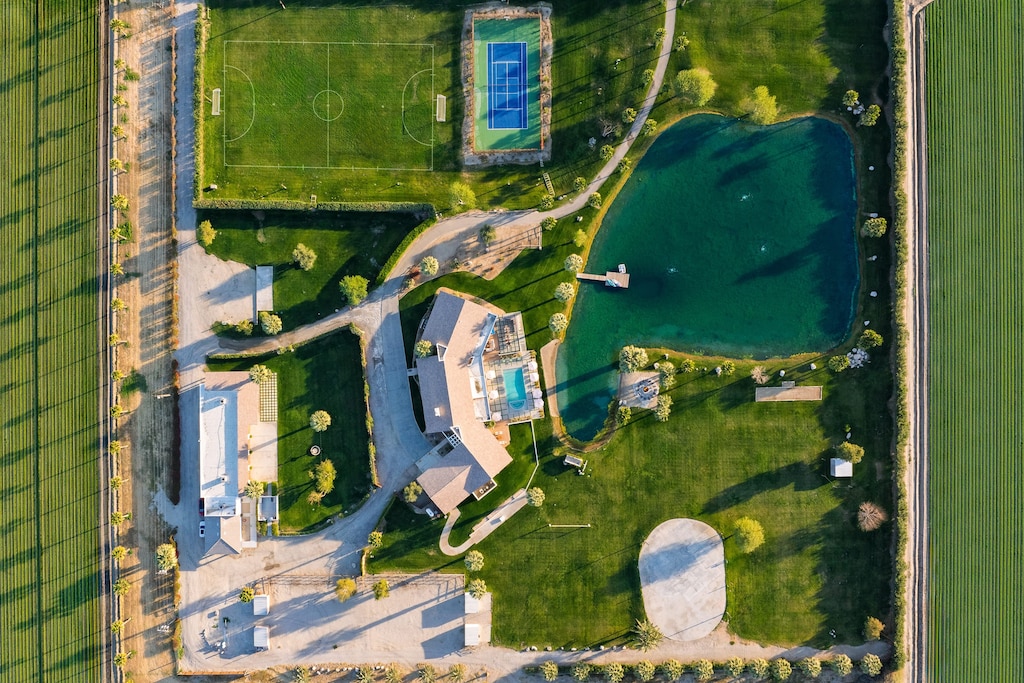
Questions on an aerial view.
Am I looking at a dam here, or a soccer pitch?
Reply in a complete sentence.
It is a soccer pitch that can be seen here.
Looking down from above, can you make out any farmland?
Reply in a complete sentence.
Yes, the picture does contain farmland.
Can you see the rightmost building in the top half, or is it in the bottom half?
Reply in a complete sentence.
The bottom half of the photo is where the rightmost building is.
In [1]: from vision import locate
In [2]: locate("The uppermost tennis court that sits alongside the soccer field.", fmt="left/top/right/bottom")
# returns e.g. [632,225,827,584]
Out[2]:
[474,15,542,151]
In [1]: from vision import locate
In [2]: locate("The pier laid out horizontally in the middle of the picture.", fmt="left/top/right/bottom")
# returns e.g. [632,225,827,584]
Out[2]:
[577,271,630,288]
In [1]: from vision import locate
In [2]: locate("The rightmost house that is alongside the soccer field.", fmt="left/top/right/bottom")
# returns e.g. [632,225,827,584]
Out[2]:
[408,292,513,515]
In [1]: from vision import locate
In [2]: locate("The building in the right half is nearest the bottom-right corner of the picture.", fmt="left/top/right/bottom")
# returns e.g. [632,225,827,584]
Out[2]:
[827,457,852,477]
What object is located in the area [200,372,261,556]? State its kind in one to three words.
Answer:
house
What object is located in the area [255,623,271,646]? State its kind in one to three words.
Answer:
shed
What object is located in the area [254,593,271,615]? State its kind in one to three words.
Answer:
shed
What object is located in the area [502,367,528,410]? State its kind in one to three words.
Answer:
swimming pool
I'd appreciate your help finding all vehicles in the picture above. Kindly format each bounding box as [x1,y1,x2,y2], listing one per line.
[199,521,205,537]
[197,498,204,516]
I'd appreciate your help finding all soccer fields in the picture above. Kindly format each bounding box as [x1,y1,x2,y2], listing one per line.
[205,3,460,202]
